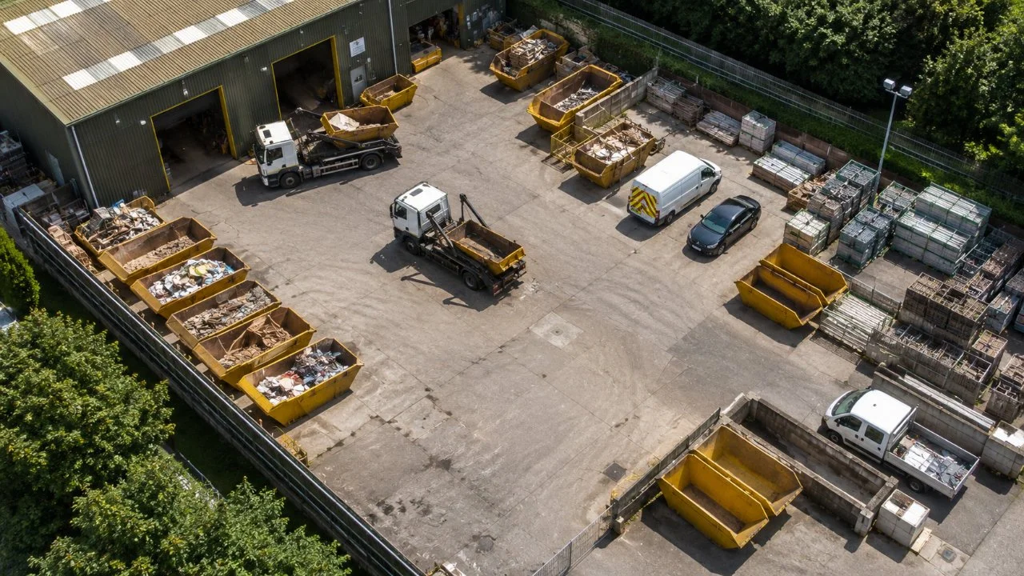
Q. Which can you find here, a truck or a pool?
truck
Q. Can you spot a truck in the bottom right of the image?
Yes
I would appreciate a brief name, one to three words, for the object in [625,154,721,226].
van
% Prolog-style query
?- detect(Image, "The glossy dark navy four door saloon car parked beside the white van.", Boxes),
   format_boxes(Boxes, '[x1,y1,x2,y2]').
[683,194,763,257]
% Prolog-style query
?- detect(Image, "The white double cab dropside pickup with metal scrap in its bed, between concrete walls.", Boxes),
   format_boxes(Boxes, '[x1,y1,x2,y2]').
[816,388,984,504]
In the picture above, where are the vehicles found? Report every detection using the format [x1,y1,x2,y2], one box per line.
[245,109,406,187]
[816,388,984,504]
[683,194,763,257]
[385,180,530,300]
[625,154,721,226]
